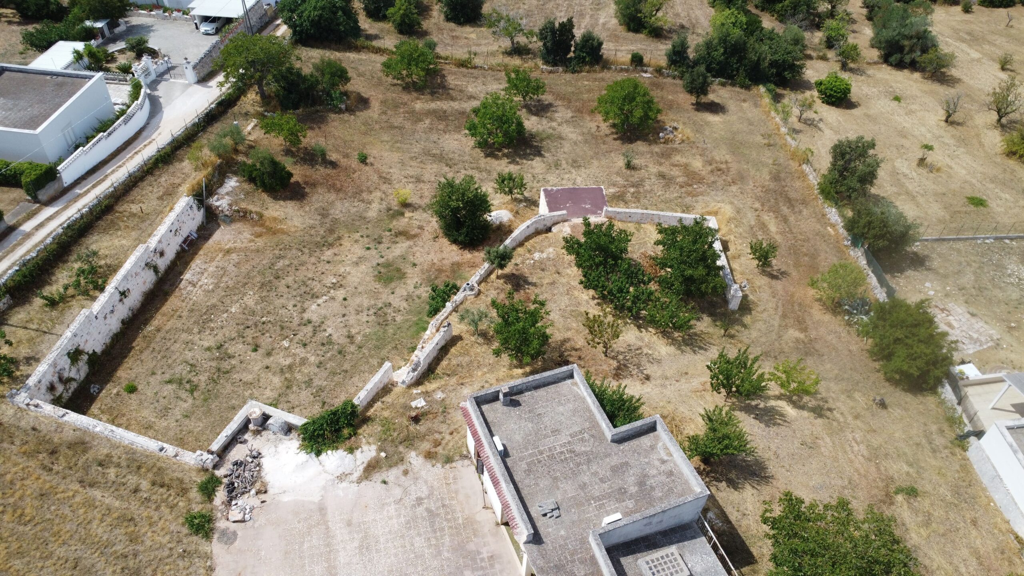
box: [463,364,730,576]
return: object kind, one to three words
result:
house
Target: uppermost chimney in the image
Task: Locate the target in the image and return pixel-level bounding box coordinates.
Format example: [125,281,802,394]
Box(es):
[463,277,478,297]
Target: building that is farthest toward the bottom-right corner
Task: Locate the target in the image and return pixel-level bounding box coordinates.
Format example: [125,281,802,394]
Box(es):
[980,418,1024,513]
